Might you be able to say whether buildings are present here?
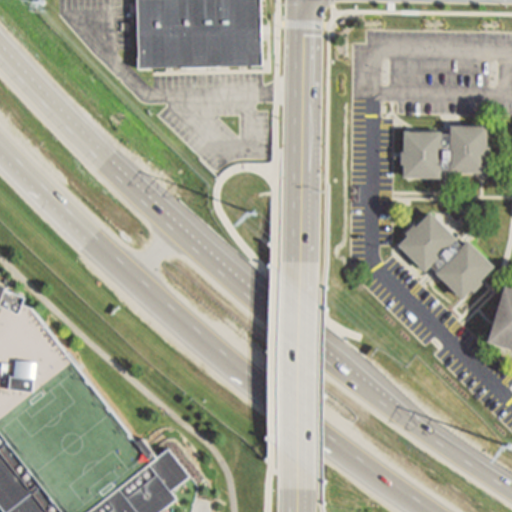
Yes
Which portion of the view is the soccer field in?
bottom left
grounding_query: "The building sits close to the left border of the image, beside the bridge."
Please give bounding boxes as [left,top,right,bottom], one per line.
[0,284,189,512]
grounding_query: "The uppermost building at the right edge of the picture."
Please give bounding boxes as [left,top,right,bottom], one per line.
[402,126,487,180]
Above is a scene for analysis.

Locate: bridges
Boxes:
[265,150,328,512]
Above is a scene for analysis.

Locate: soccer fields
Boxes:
[0,364,148,512]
